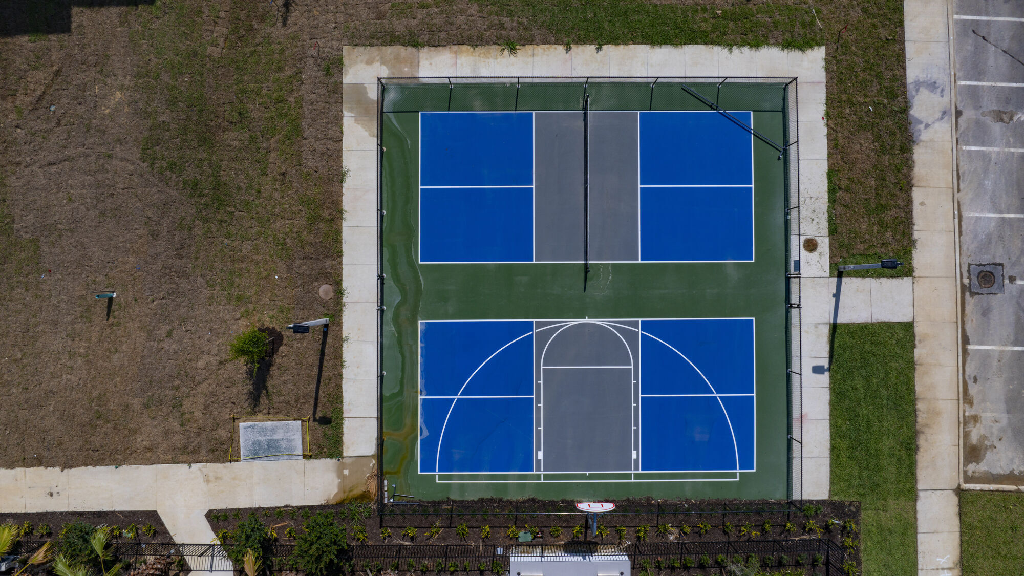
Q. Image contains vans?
No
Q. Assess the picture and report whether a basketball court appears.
Yes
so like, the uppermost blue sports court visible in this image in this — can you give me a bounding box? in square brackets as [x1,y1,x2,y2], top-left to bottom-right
[420,111,754,263]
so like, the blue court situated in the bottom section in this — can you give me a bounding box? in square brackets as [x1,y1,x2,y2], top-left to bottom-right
[419,317,756,483]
